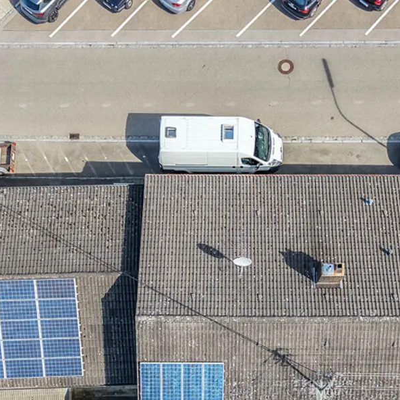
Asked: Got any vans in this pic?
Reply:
Yes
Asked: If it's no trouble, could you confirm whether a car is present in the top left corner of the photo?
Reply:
Yes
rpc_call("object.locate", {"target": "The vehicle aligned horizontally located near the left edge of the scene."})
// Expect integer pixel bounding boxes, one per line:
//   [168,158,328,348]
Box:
[19,0,70,23]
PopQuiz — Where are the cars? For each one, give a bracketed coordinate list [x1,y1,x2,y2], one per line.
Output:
[19,0,70,23]
[159,0,197,15]
[101,0,135,13]
[361,0,394,13]
[282,0,328,21]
